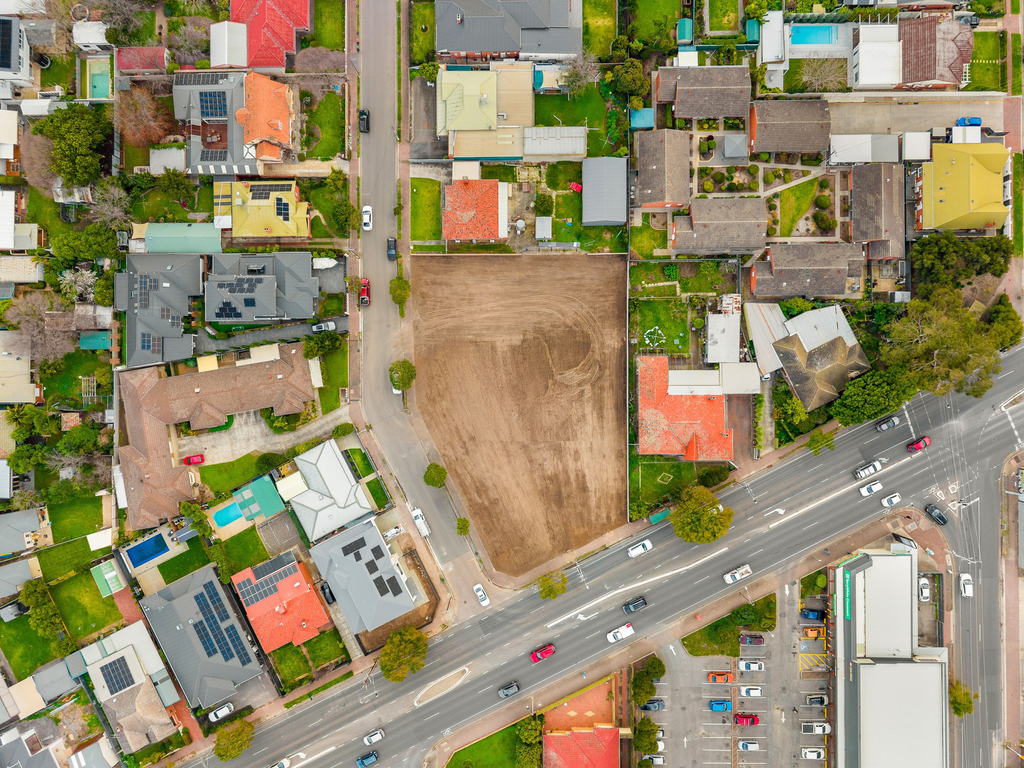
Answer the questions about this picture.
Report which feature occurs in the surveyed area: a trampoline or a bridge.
trampoline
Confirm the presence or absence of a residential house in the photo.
Yes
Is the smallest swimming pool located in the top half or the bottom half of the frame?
bottom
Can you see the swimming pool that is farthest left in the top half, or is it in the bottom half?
top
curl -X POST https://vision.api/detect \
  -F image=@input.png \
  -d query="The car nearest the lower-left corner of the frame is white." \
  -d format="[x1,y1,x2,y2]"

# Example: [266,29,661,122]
[209,703,234,721]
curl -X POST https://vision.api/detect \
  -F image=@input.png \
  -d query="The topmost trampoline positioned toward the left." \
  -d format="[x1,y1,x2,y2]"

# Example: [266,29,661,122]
[68,2,90,21]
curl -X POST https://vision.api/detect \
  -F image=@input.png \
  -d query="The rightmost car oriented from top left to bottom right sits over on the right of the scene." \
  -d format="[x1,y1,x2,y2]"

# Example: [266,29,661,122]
[925,503,948,527]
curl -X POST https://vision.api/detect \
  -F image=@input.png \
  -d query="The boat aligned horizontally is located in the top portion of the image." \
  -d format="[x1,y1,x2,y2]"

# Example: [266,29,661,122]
[313,257,338,269]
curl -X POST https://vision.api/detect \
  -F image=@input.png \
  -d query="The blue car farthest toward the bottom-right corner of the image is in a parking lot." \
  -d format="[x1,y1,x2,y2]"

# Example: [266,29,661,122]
[801,608,826,621]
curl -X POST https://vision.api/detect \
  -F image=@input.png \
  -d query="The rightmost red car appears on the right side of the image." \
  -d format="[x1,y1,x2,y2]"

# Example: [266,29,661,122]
[906,436,931,453]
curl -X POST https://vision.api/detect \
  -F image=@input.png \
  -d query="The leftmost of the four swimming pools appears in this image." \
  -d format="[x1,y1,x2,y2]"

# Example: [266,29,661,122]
[86,59,109,99]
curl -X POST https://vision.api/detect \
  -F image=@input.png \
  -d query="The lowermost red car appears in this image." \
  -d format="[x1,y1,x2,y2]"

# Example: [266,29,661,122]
[734,713,759,726]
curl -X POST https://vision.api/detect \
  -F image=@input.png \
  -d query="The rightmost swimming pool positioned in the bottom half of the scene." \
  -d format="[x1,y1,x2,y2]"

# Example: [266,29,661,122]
[210,502,242,530]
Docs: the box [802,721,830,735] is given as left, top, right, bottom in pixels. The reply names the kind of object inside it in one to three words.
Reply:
vehicle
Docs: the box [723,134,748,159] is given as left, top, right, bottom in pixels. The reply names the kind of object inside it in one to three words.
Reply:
gazebo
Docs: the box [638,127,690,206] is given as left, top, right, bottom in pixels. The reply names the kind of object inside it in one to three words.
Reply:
house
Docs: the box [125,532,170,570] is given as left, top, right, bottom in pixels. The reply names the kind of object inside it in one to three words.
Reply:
swimming pool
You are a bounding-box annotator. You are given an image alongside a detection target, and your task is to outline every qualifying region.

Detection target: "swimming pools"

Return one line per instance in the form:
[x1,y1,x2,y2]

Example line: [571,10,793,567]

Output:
[210,502,242,530]
[125,532,170,570]
[791,24,839,45]
[86,59,109,99]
